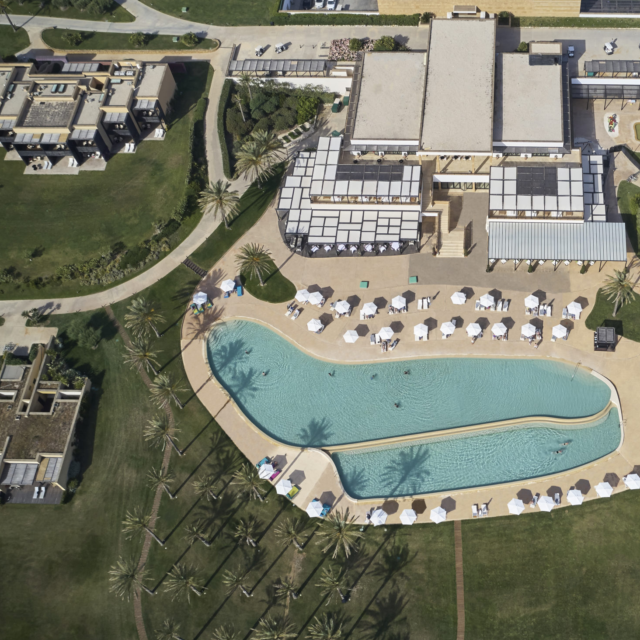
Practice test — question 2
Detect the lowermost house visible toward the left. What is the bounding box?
[0,335,97,493]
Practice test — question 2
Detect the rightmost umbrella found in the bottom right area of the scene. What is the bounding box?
[625,474,640,491]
